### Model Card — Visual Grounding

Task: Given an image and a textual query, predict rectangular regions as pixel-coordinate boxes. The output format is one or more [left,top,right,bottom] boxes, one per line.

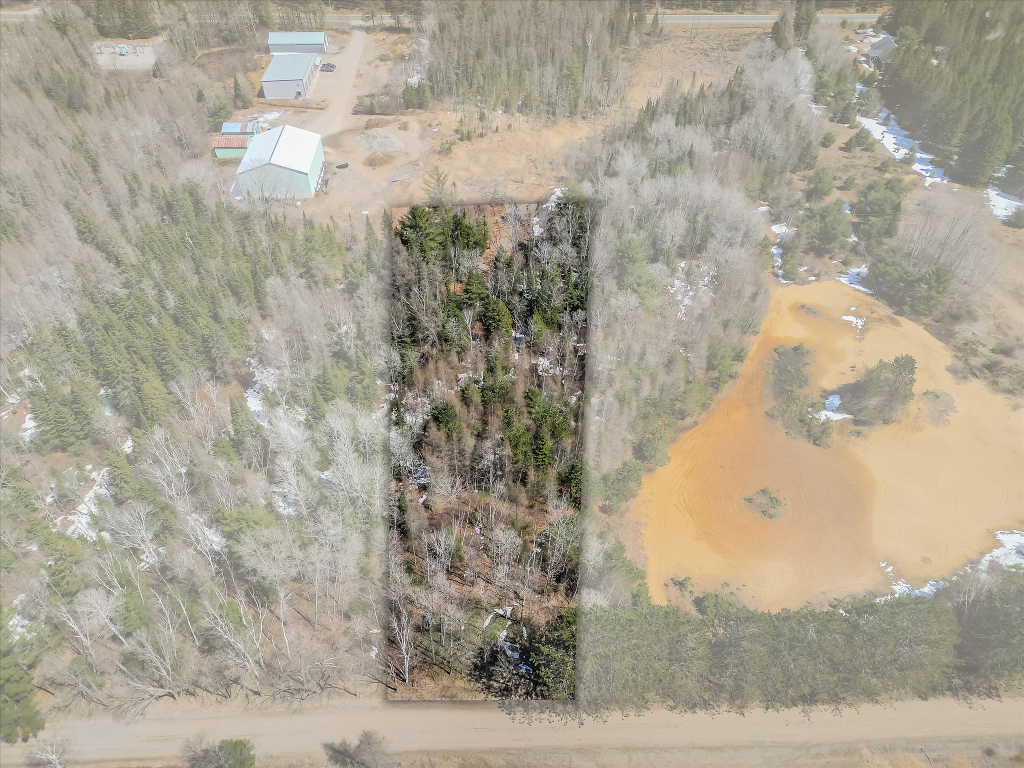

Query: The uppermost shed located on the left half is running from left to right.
[267,31,331,53]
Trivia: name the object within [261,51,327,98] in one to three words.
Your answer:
building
